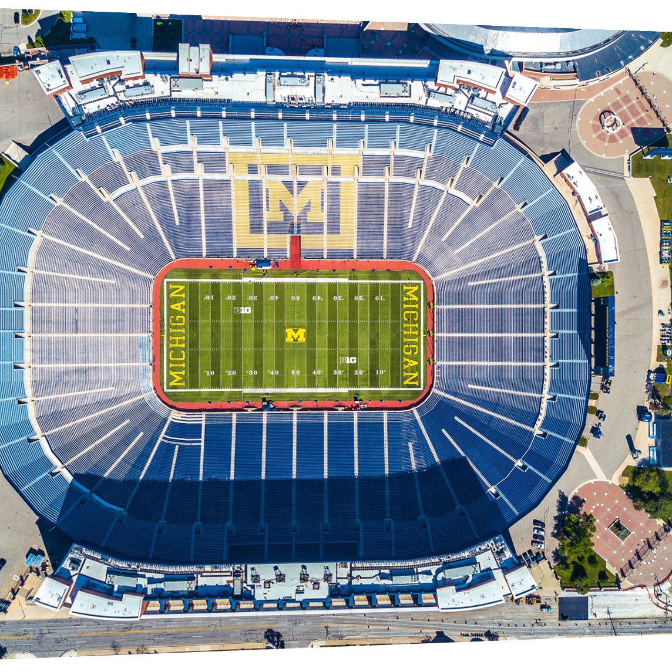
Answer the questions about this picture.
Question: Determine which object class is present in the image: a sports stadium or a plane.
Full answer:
Of the two, only a sports stadium appears.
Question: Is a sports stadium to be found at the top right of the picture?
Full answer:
Yes, a sports stadium can be seen at the top right of the picture.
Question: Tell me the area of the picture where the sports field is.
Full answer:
The sports field is located in the center region of the scene.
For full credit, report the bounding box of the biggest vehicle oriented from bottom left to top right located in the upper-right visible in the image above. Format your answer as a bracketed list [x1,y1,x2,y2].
[513,105,530,130]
